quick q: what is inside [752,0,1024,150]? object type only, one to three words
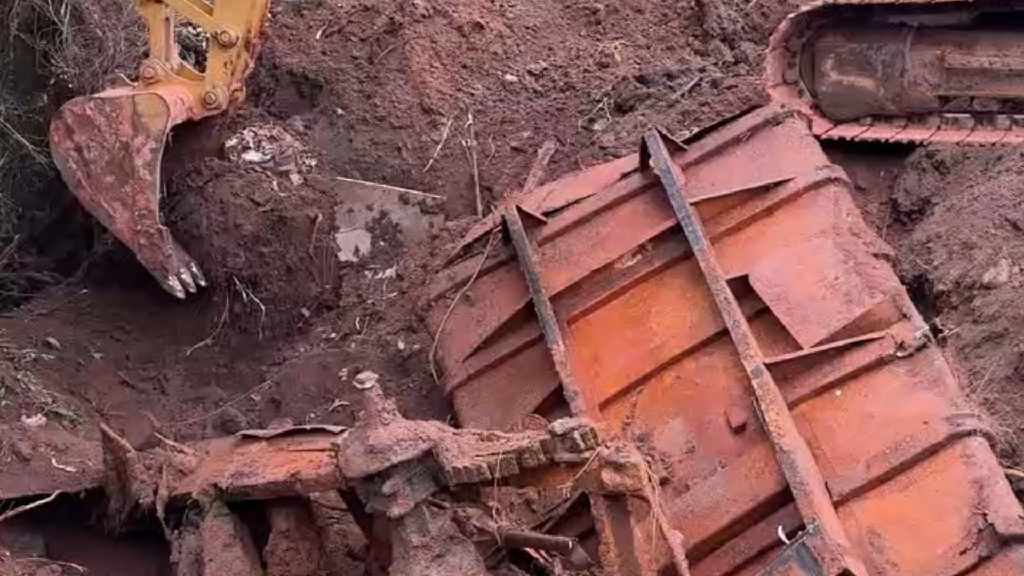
work vehicle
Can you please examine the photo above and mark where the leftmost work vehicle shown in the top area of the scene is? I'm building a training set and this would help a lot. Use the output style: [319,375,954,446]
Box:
[48,0,290,298]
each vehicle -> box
[752,0,1024,150]
[48,0,290,298]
